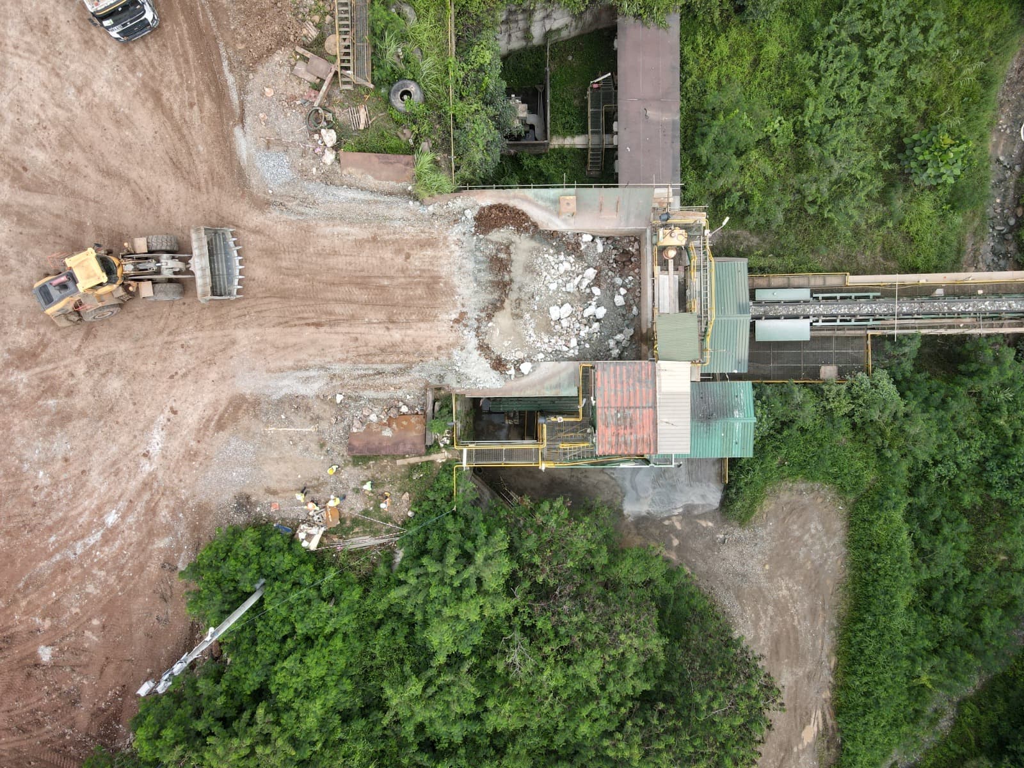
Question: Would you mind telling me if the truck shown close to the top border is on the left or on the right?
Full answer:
You can find the truck shown close to the top border on the left side of the picture.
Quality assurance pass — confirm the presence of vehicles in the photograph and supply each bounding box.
[27,226,247,338]
[82,0,162,49]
